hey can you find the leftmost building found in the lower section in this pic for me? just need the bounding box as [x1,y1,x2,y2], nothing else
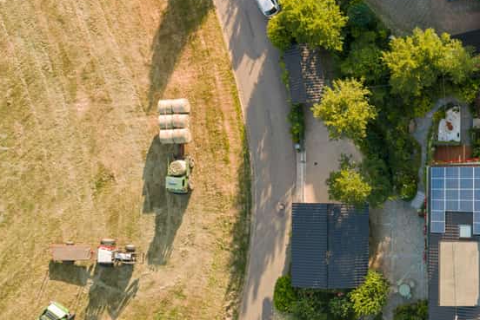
[291,203,373,289]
